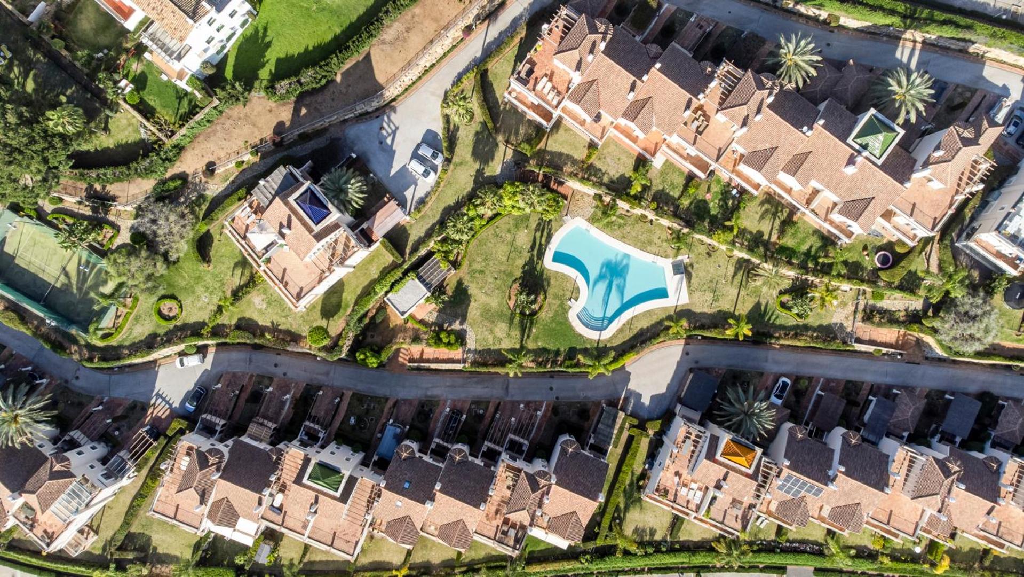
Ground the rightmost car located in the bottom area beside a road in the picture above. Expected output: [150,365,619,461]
[768,375,790,407]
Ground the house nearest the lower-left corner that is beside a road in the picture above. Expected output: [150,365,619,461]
[0,426,166,559]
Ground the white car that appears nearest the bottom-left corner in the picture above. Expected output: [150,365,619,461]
[175,353,206,370]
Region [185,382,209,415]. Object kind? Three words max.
car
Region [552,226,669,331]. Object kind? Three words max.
swimming pool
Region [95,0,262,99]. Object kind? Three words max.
house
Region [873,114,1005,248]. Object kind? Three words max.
house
